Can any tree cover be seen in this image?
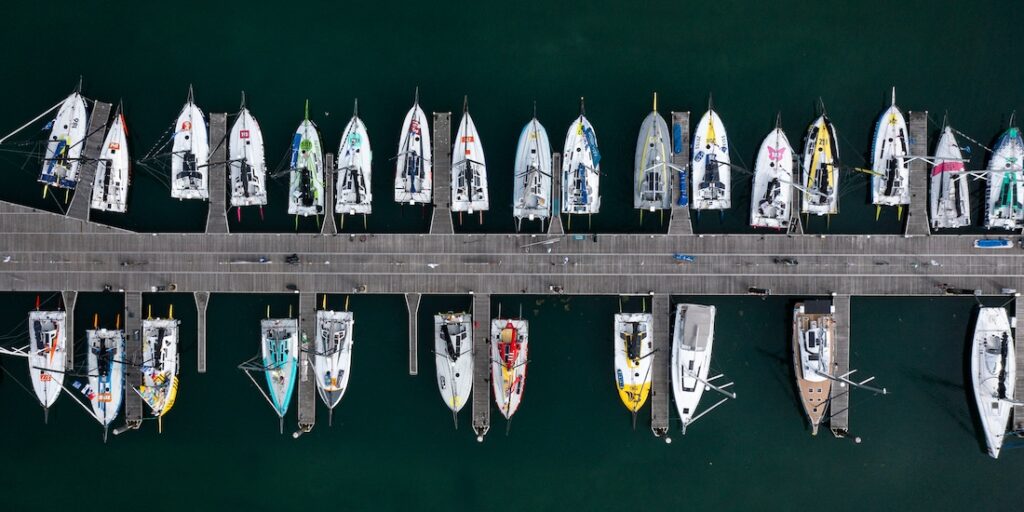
No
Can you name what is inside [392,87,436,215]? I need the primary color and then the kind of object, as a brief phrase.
white boat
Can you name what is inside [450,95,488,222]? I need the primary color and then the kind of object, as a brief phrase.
white boat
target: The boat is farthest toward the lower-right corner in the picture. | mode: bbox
[968,296,1024,459]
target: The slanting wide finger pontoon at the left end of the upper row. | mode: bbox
[66,100,114,220]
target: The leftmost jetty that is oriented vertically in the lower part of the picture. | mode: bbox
[61,291,80,370]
